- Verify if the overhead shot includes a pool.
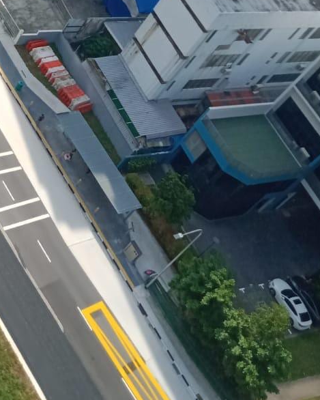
No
